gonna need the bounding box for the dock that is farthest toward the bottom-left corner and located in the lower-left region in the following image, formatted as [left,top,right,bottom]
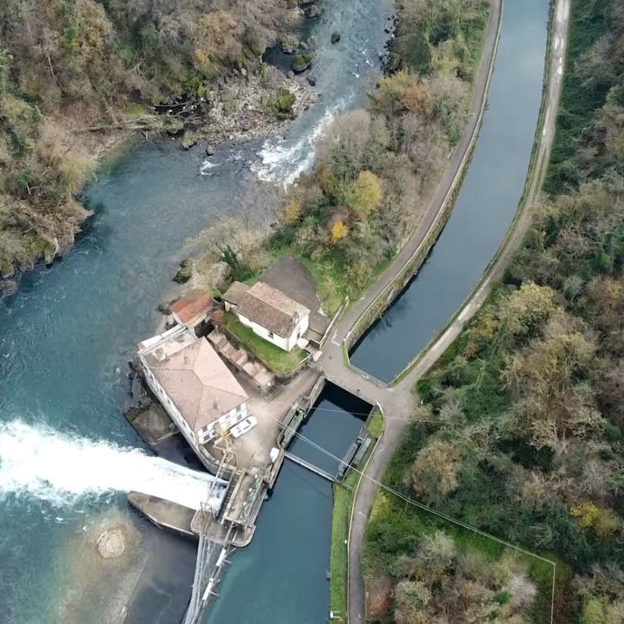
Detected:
[128,490,199,539]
